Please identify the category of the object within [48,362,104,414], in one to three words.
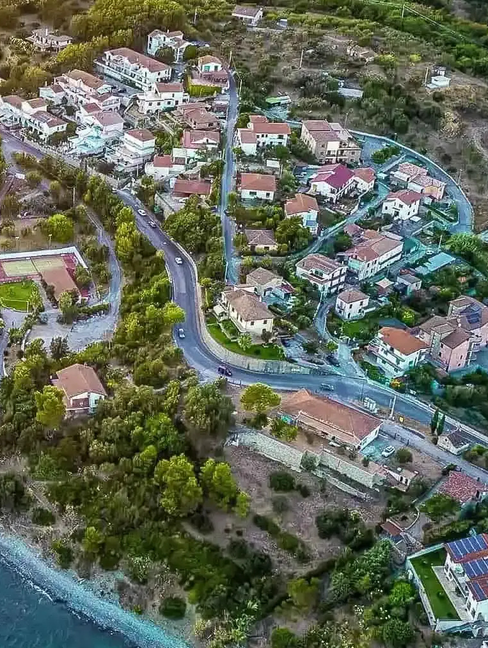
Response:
house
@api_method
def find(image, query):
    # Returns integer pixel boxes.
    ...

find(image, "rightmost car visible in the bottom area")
[382,443,396,456]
